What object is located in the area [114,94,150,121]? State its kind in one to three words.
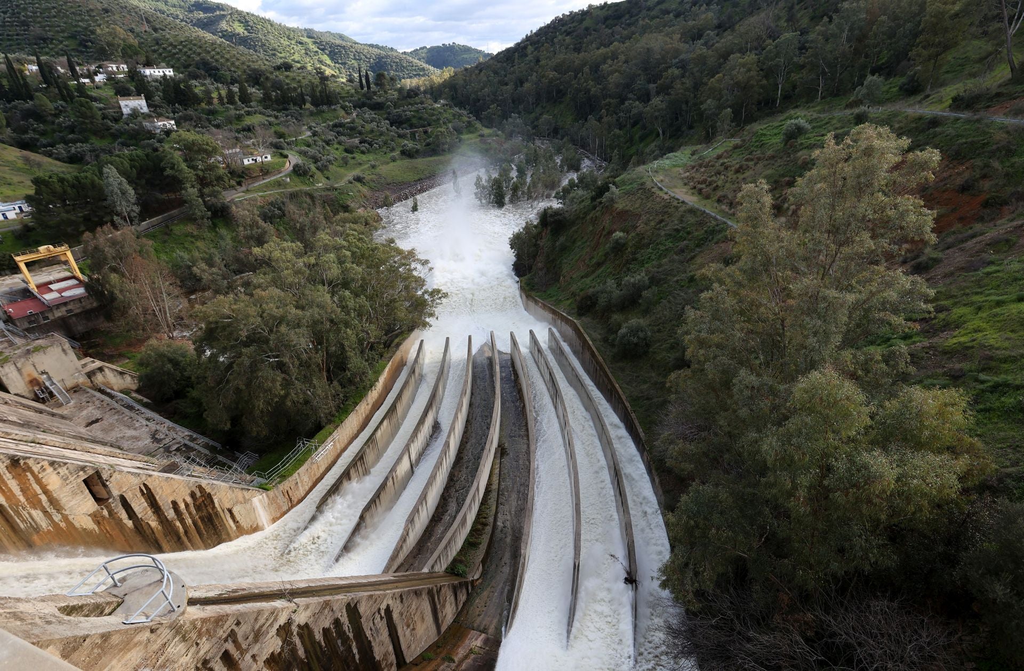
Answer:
house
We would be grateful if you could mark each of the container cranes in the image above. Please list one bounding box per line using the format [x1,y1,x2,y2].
[9,242,85,295]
